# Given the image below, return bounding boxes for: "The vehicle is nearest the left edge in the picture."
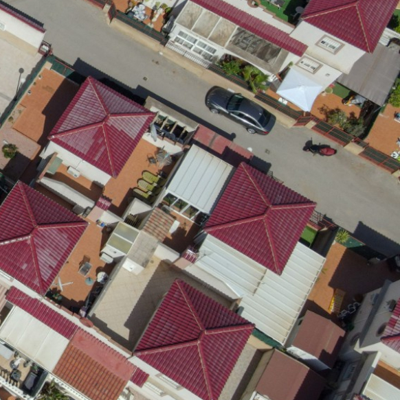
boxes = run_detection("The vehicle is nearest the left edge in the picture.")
[197,90,278,142]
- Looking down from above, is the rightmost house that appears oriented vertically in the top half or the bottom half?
bottom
